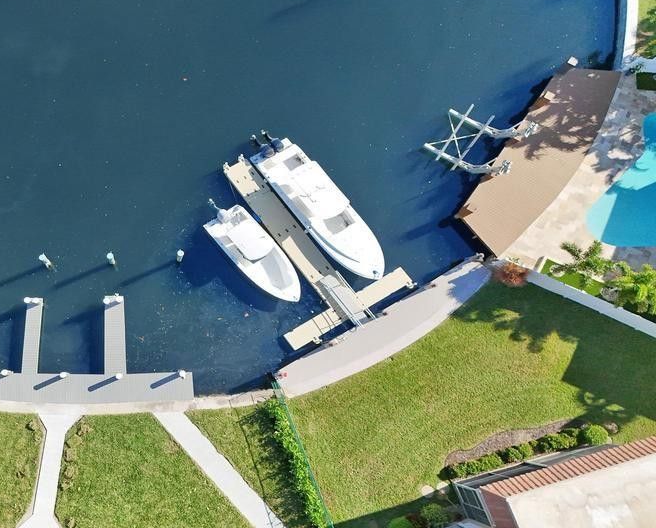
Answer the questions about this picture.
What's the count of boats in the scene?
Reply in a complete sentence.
Altogether the scene contains 2 boats.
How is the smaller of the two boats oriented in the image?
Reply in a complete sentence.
The smaller of the two boats runs on a diagonal in the image.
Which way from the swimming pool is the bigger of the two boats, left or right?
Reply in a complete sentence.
You can see the bigger of the two boats positioned to the left of the swimming pool.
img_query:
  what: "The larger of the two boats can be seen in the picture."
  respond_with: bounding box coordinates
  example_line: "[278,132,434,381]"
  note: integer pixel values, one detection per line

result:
[245,128,387,280]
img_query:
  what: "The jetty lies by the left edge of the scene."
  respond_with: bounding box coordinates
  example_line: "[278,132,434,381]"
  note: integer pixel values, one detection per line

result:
[0,295,195,404]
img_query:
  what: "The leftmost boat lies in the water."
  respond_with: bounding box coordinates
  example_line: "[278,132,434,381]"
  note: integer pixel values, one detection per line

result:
[204,194,302,304]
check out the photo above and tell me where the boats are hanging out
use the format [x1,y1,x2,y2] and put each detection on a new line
[245,128,387,280]
[204,194,302,304]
